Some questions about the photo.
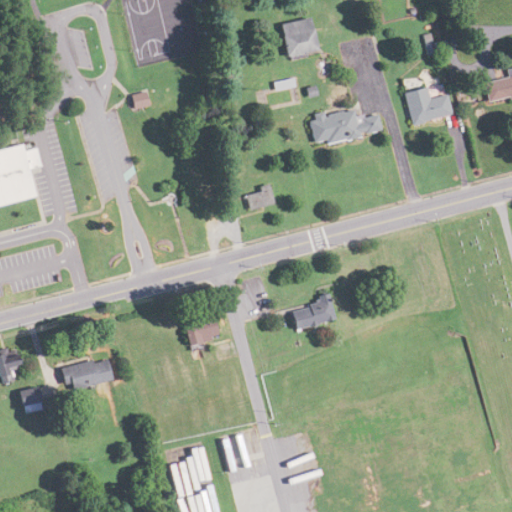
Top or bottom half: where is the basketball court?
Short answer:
top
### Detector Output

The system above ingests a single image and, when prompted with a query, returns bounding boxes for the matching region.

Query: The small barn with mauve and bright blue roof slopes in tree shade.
[20,388,43,414]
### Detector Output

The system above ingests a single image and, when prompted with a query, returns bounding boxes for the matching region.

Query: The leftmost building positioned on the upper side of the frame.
[0,143,43,208]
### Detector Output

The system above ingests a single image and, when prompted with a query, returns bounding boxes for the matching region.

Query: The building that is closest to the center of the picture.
[248,184,275,210]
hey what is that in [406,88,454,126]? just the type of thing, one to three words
house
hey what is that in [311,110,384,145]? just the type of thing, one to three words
house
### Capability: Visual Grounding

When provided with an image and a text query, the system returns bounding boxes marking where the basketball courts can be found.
[125,0,194,66]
